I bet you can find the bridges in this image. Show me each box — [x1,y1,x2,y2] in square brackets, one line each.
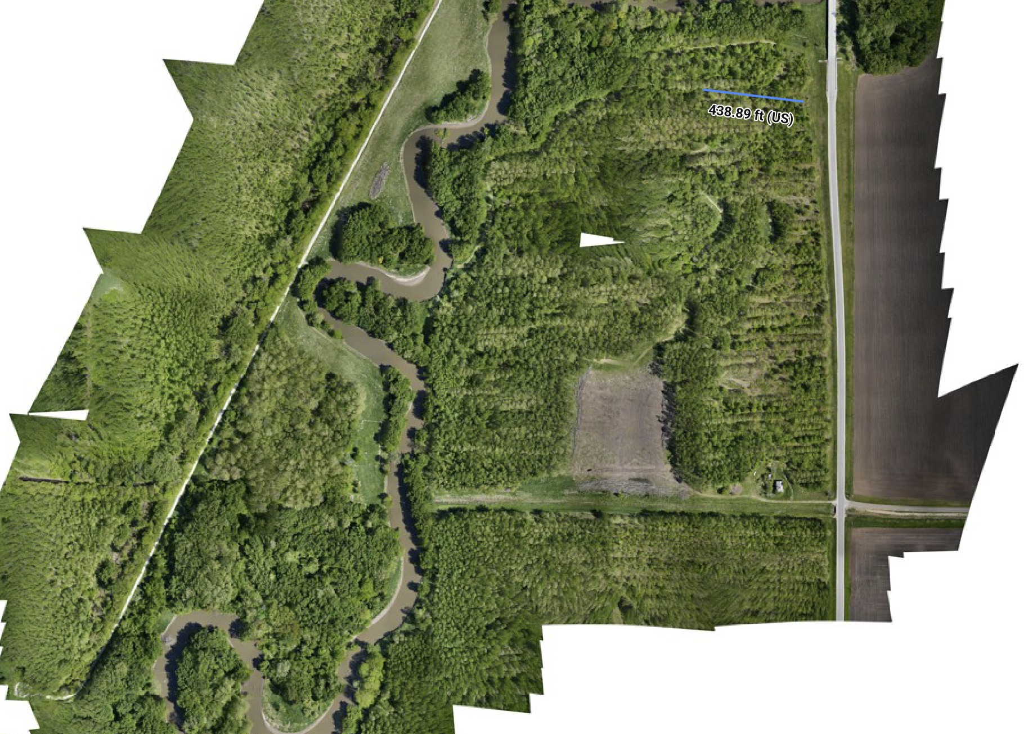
[819,0,844,91]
